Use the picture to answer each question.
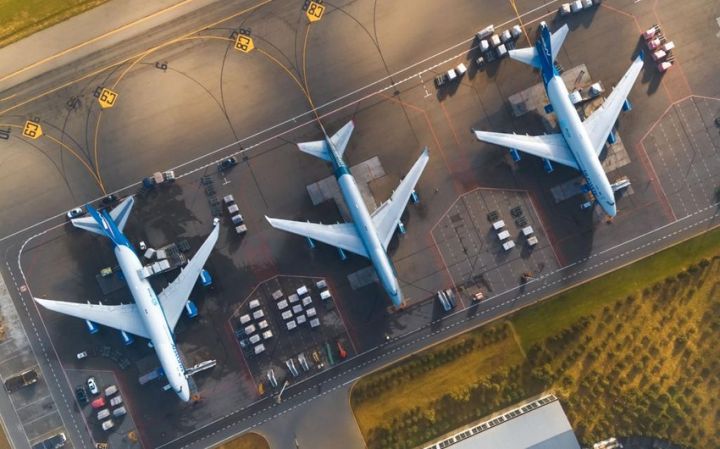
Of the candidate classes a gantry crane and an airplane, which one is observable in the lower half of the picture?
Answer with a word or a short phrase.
airplane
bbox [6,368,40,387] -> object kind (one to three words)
vehicle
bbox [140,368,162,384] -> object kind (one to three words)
vehicle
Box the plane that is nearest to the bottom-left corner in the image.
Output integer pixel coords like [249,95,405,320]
[30,193,216,401]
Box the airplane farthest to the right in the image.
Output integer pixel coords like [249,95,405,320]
[477,22,650,216]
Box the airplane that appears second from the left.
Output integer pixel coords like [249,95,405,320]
[266,119,430,306]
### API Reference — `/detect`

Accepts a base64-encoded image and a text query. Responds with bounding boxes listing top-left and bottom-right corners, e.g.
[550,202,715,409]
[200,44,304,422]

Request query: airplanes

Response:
[266,119,430,306]
[30,193,216,401]
[477,22,650,216]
